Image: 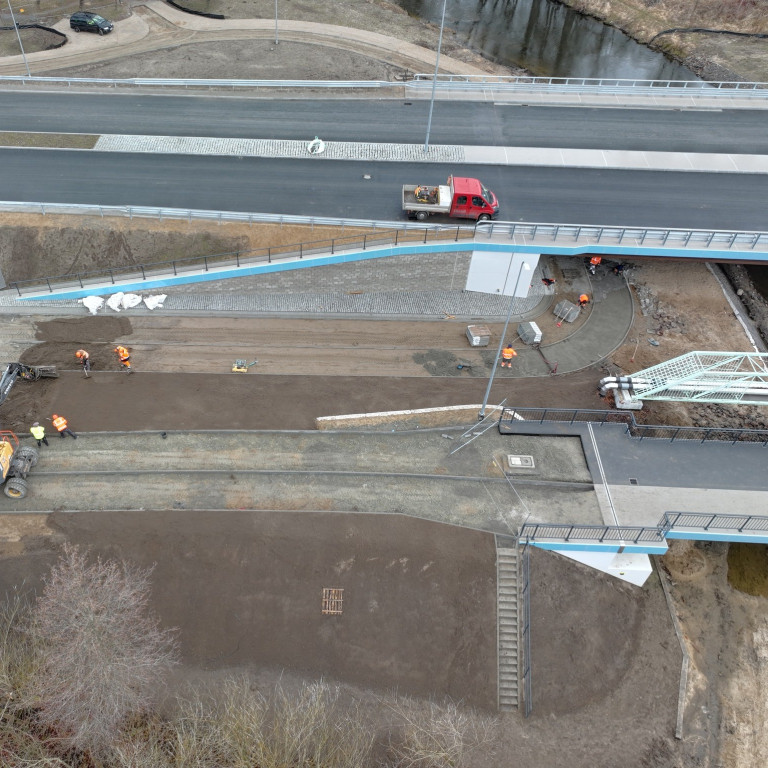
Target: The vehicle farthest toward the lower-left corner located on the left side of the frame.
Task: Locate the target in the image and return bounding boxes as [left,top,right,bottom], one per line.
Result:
[0,362,62,500]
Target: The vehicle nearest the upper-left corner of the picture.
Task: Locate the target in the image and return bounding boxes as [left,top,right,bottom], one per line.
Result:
[64,10,117,39]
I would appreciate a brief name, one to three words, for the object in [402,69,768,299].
bridge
